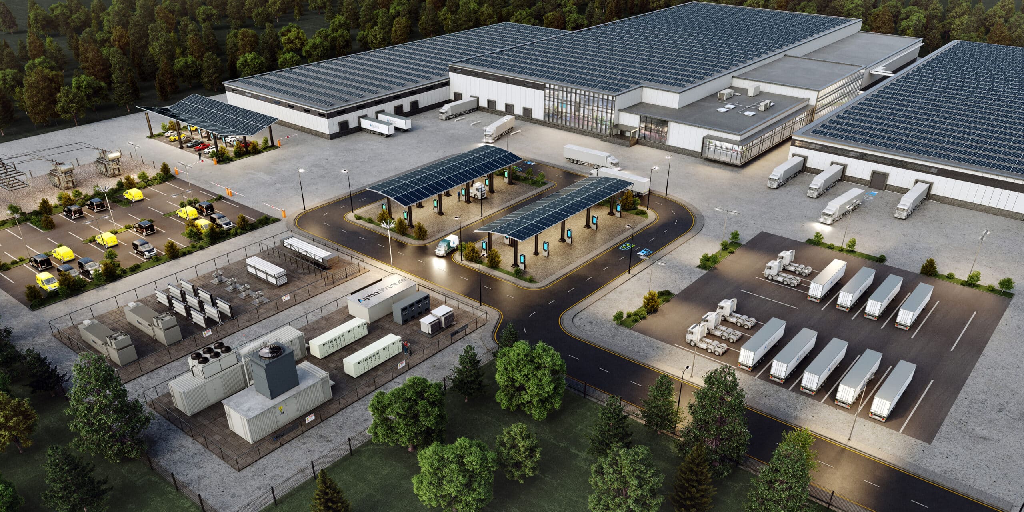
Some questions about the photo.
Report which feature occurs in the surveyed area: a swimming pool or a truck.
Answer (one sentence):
This aerial view contains a truck.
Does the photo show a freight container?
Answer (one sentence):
Yes, you can see a freight container in this photo.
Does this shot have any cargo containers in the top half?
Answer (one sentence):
No, no cargo container can be made out in the top half.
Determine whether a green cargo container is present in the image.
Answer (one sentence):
No, no green cargo container is visible in the view.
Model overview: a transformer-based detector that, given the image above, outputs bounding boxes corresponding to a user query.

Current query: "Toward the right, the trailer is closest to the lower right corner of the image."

[870,360,917,420]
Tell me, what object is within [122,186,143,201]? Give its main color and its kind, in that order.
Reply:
yellow vehicle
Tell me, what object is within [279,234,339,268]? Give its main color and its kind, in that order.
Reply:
white trailer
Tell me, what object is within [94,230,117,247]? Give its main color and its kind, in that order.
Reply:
yellow vehicle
